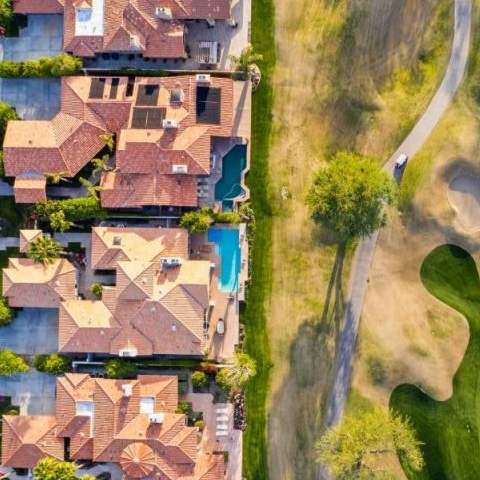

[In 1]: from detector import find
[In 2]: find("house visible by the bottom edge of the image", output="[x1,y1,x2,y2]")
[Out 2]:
[2,372,226,480]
